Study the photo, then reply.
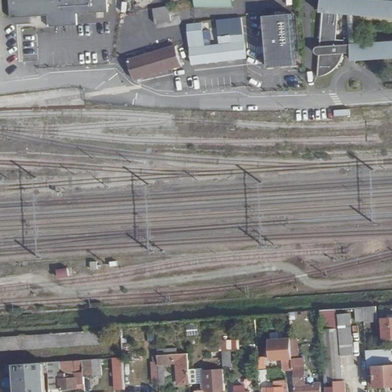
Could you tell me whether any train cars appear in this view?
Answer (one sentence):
No, this view has no train car in it.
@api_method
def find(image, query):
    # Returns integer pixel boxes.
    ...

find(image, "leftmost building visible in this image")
[10,362,43,392]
